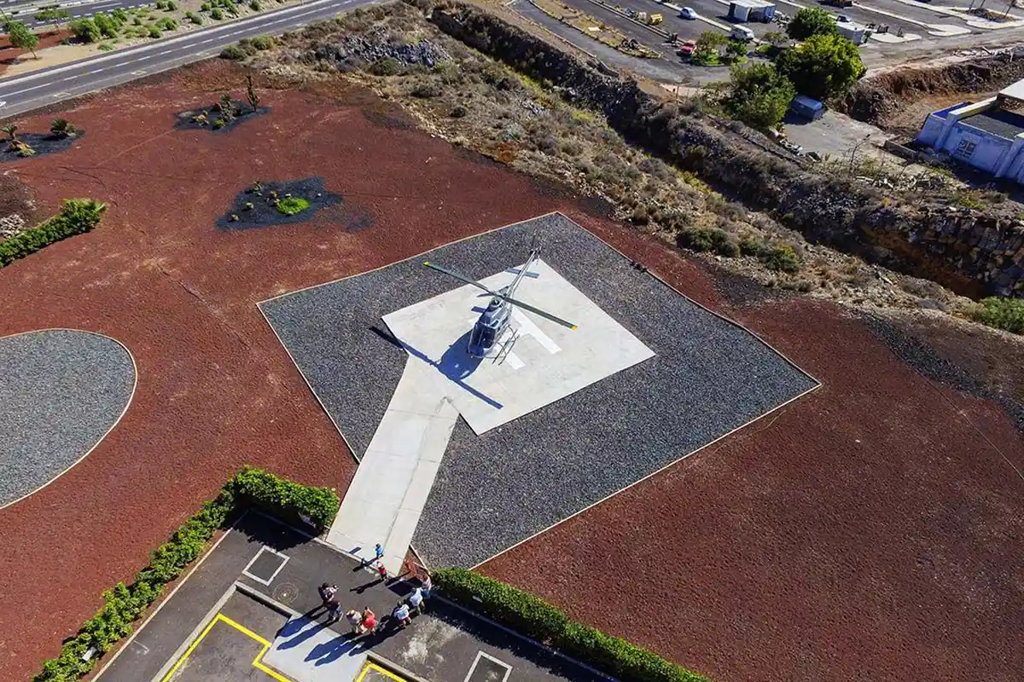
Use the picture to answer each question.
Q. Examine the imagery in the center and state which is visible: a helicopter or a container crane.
helicopter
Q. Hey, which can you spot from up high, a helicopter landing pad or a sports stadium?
helicopter landing pad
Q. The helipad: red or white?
white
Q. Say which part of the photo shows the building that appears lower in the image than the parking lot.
top right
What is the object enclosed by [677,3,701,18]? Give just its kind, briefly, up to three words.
car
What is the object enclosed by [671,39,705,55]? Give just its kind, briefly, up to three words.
car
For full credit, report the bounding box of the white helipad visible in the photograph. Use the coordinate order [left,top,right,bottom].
[381,259,656,437]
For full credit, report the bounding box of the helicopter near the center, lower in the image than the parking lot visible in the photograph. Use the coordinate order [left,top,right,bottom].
[423,235,575,365]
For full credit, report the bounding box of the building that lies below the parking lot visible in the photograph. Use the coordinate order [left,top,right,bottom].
[918,95,1024,187]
